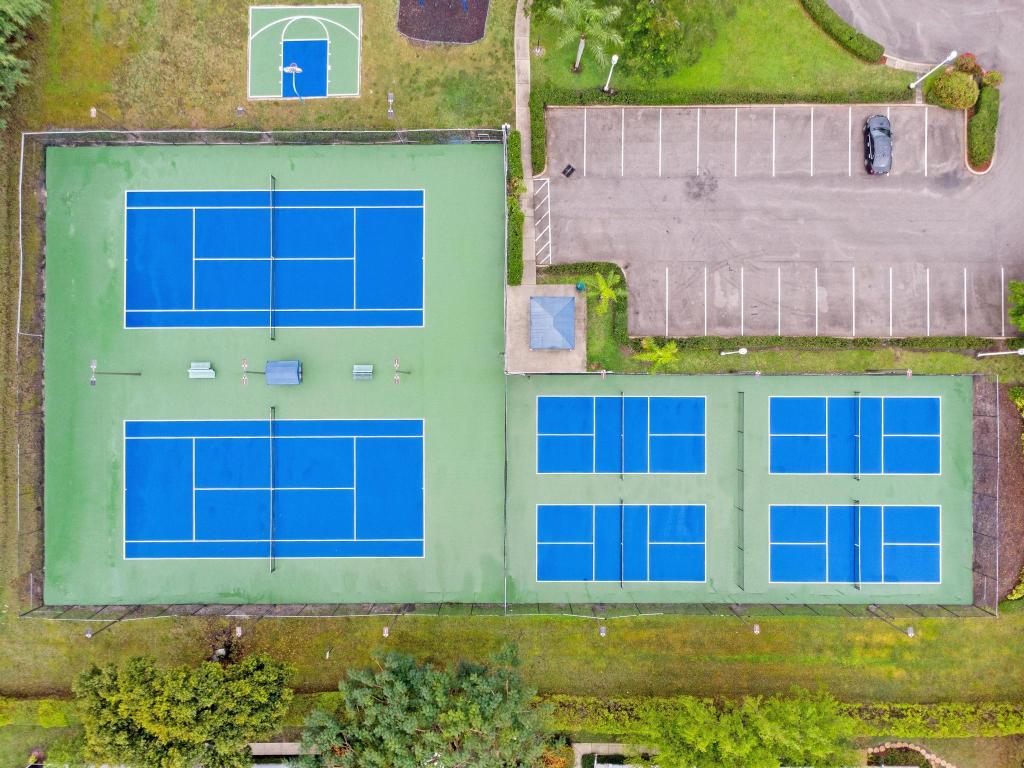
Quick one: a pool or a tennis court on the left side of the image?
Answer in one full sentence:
Looking on the left side of the image, you will find a tennis court.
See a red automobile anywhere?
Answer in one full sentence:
No, no red automobile is visible in the scene.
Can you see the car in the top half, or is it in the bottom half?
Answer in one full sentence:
It is in the top half that the car appears.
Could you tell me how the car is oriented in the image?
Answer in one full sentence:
From this overhead view, the car appears to run up and down.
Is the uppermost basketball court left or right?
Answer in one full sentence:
The uppermost basketball court appears in the left half of the scene.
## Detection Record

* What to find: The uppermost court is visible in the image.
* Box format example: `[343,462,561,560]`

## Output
[248,4,362,100]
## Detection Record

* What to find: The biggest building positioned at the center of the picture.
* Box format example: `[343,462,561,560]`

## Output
[529,297,575,350]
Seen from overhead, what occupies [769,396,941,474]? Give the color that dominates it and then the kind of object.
blue sports court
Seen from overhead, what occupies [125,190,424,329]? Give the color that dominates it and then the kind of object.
blue tennis court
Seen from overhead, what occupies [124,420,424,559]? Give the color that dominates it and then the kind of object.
blue tennis court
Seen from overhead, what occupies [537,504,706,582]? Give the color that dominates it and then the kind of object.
blue sports court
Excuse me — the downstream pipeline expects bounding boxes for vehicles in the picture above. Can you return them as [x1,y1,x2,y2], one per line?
[861,114,894,177]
